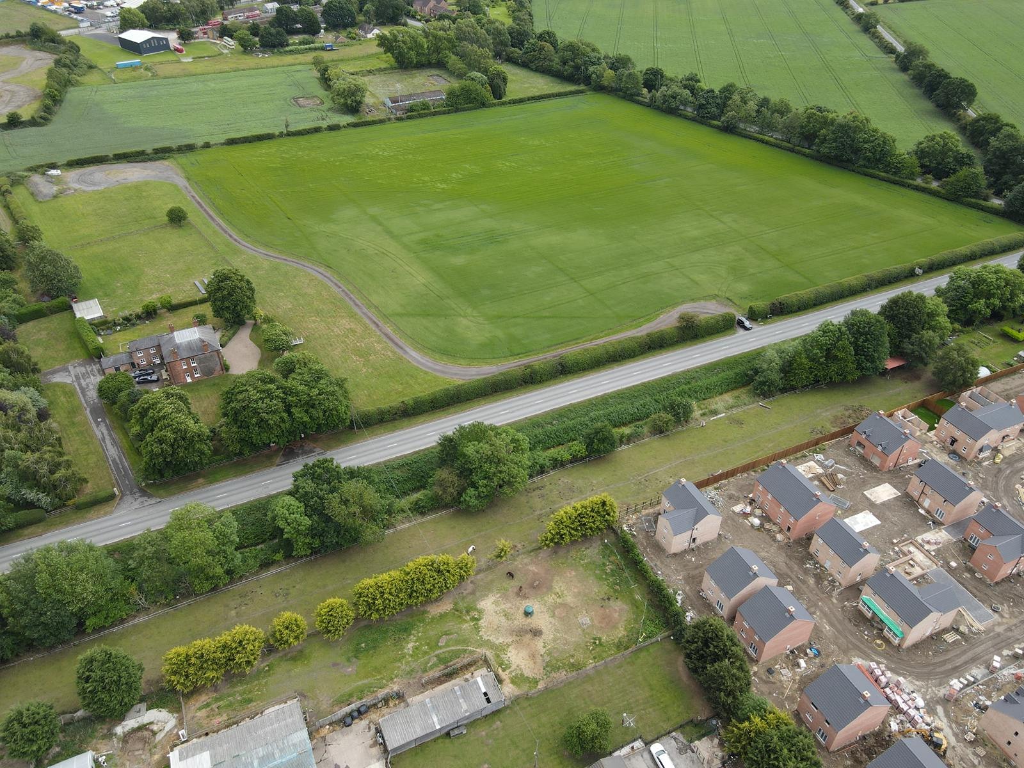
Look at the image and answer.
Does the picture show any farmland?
Yes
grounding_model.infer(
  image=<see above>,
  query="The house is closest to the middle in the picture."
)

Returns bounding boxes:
[656,476,723,553]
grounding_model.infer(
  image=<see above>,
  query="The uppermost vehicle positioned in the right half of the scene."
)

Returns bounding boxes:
[737,314,752,329]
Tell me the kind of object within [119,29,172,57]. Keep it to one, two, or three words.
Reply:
building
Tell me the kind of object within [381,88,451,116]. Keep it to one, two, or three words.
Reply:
shed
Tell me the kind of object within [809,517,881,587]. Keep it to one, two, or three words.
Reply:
house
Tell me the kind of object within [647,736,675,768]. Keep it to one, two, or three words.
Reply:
car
